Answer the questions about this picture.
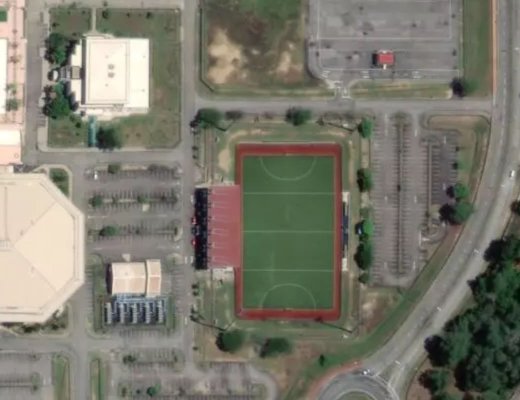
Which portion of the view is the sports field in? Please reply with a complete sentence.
The sports field is located in the center region of the scene.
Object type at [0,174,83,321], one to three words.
building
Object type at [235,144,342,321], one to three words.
sports field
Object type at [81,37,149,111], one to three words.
building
